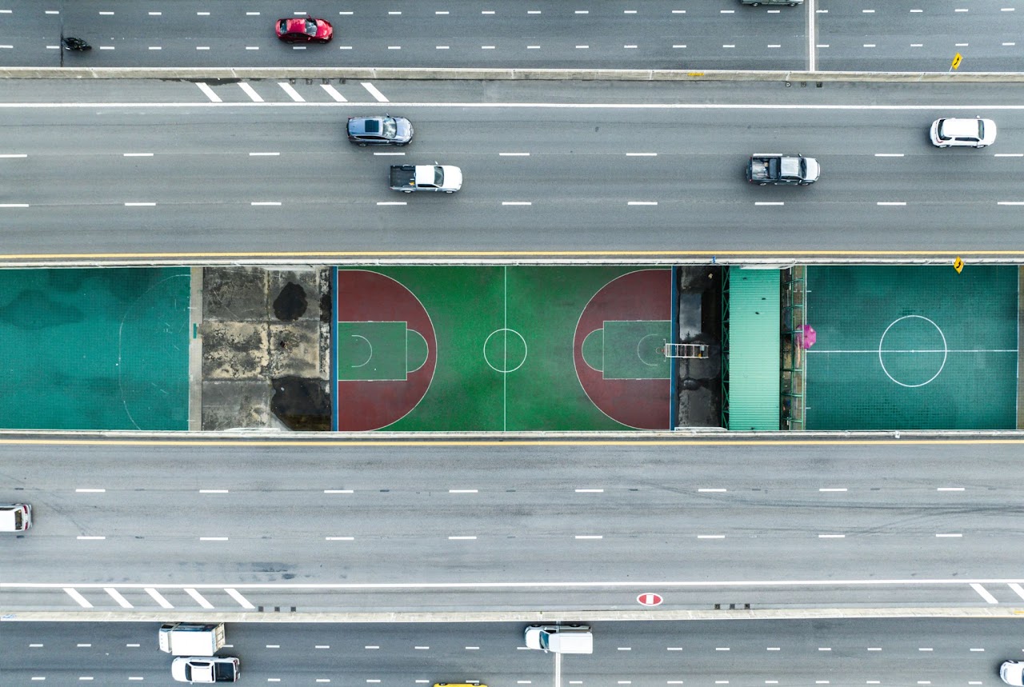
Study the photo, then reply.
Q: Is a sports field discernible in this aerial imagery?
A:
Yes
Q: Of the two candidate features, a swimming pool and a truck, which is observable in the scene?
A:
truck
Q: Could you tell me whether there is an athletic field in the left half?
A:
Yes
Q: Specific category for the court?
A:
basketball court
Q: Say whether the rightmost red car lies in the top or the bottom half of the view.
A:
top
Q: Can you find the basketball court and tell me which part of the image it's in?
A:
center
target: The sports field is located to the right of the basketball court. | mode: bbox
[805,266,1018,429]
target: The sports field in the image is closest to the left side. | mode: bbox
[0,268,189,430]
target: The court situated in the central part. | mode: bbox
[337,266,672,430]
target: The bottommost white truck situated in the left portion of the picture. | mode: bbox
[173,654,241,686]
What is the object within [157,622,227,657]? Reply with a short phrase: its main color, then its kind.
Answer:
white truck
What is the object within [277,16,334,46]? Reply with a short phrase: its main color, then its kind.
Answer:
red car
